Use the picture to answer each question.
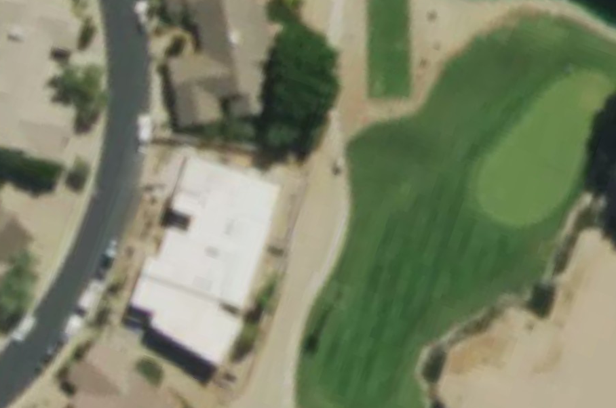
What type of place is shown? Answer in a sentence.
It's a residential area.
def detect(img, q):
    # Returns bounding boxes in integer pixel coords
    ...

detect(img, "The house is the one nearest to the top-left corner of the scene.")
[0,0,84,158]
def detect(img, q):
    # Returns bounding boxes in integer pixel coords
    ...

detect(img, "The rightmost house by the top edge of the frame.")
[163,0,266,127]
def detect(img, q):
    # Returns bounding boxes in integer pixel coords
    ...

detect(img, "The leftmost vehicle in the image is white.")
[15,317,33,340]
